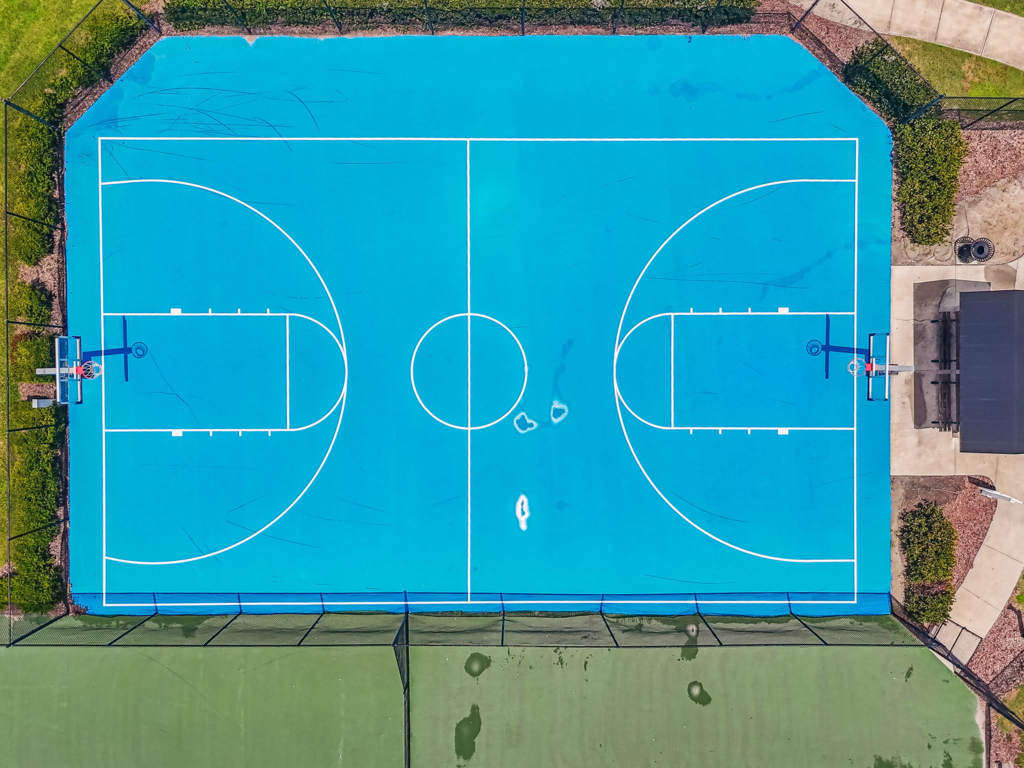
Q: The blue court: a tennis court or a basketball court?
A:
basketball court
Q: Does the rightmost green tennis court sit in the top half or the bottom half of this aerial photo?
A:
bottom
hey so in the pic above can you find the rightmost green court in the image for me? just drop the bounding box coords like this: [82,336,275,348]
[409,614,984,768]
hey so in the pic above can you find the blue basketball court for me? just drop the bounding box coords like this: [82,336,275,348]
[65,34,893,615]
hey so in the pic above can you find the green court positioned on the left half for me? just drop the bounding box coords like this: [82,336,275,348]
[0,613,410,768]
